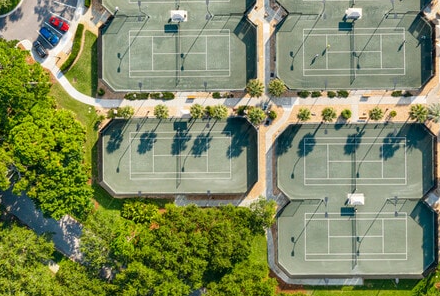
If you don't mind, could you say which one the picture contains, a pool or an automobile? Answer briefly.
automobile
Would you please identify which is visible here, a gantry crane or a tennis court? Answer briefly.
tennis court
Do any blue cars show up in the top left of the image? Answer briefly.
Yes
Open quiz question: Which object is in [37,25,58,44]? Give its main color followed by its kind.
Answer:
blue car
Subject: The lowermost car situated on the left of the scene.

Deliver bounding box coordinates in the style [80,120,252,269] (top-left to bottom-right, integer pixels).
[30,39,48,58]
